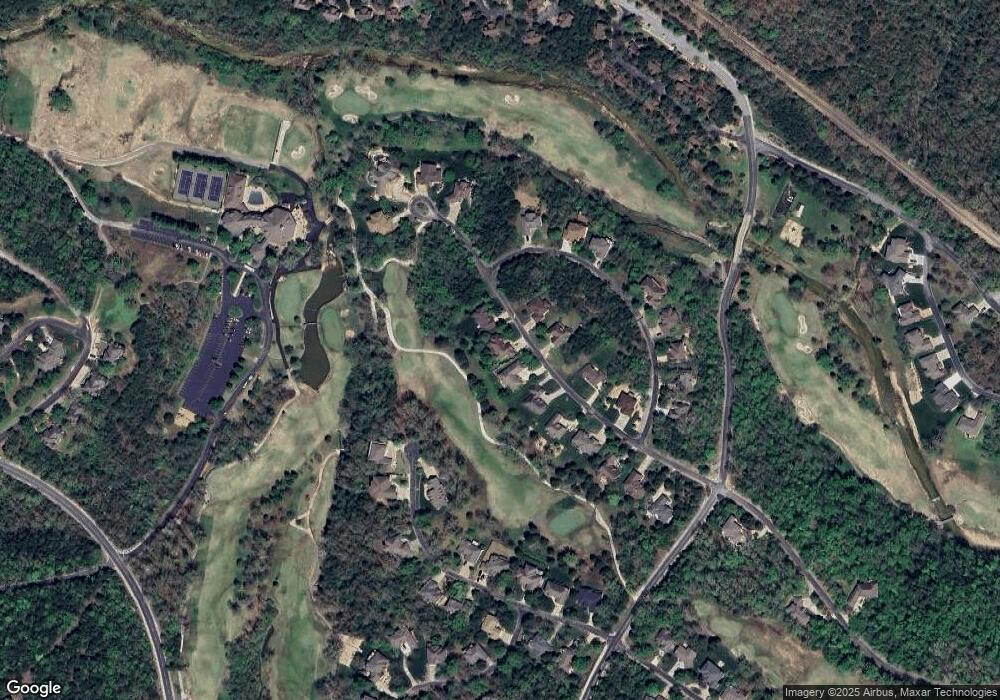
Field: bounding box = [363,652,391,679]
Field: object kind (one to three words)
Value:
house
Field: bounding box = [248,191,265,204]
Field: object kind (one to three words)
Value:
swimming pool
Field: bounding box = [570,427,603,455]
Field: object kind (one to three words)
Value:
house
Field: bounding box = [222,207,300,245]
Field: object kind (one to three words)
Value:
building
